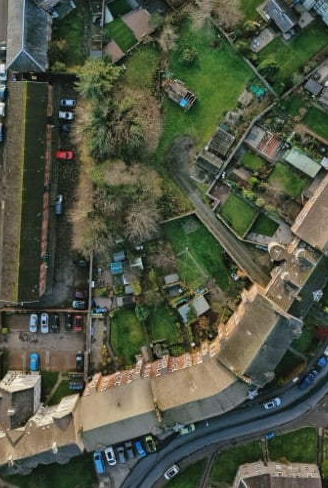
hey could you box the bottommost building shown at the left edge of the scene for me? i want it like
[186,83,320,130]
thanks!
[0,377,83,476]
